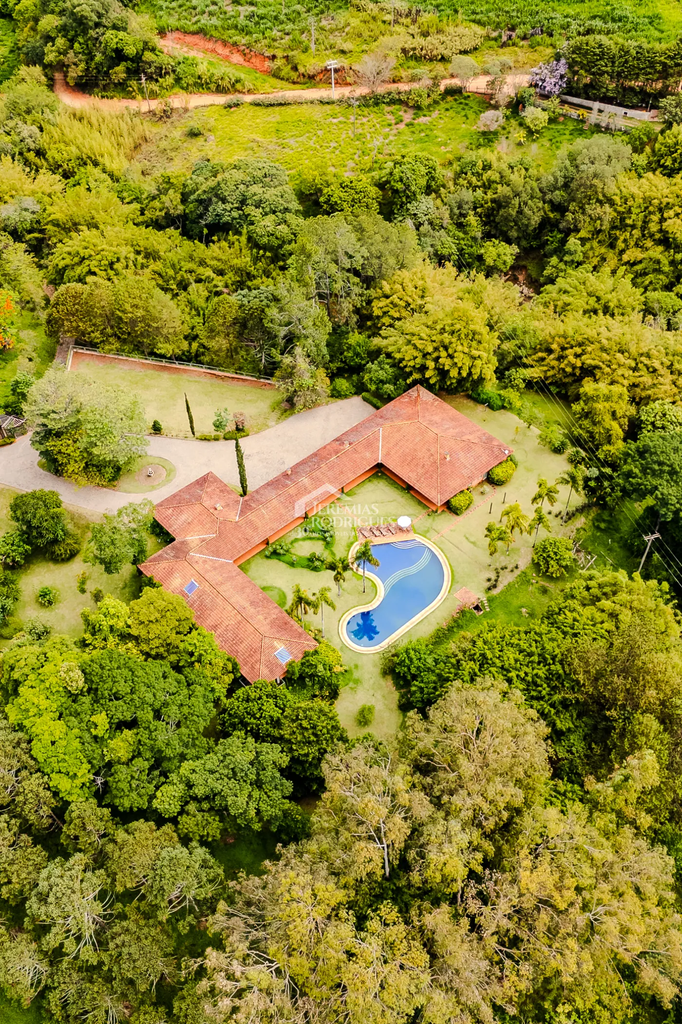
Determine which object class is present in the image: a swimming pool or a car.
swimming pool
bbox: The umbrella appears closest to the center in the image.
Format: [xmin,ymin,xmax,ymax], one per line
[397,514,416,534]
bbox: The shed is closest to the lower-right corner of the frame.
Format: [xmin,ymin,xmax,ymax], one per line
[454,586,485,616]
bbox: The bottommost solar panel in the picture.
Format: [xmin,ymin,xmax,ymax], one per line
[271,643,293,666]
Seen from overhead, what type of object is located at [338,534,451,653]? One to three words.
swimming pool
